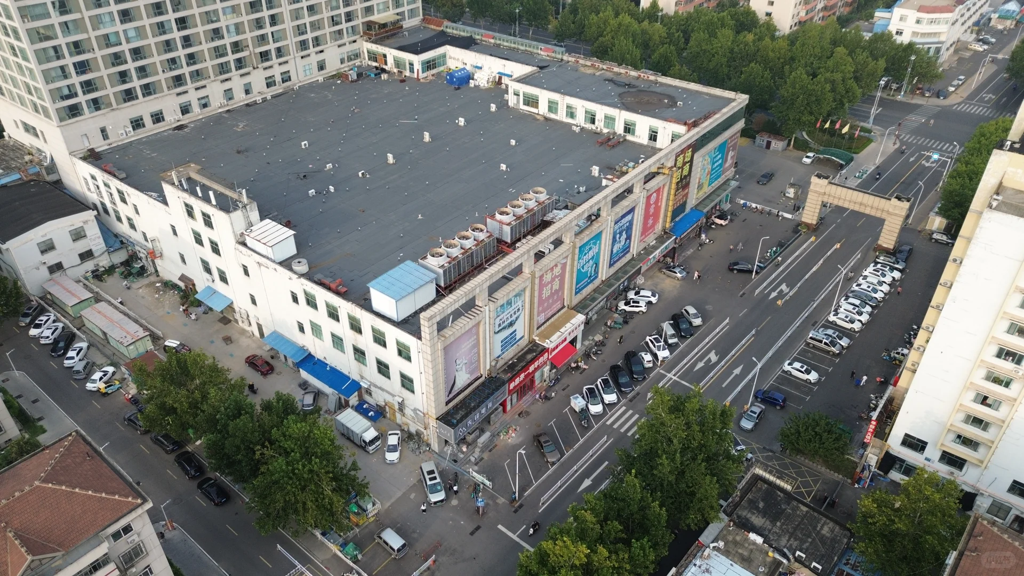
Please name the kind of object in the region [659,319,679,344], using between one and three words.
vehicle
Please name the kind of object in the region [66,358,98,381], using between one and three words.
vehicle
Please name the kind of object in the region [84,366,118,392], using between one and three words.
car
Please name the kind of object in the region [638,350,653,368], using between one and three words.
car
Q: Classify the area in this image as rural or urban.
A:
urban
